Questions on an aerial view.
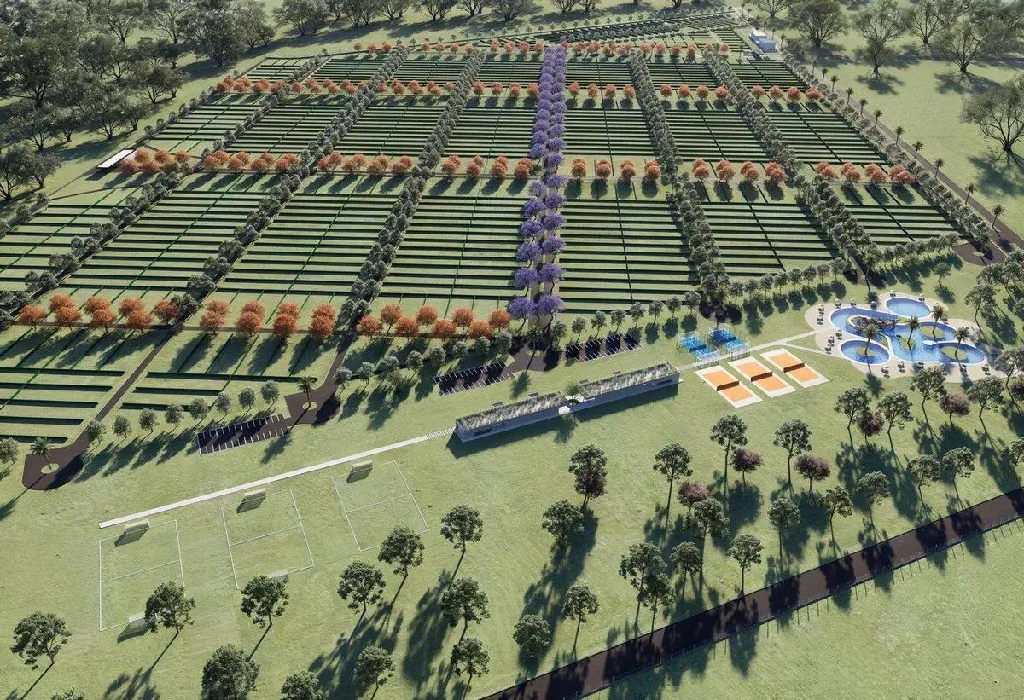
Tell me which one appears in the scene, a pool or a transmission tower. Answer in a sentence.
The image shows a pool.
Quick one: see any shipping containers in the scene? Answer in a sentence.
No, there's no shipping container here.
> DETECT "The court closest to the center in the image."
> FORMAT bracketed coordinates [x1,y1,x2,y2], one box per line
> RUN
[674,335,718,368]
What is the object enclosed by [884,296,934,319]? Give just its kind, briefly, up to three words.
swimming pool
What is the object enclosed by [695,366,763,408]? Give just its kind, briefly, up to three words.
sports court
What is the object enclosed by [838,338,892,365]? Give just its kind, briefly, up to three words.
swimming pool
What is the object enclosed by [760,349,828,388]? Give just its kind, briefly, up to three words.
sports court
